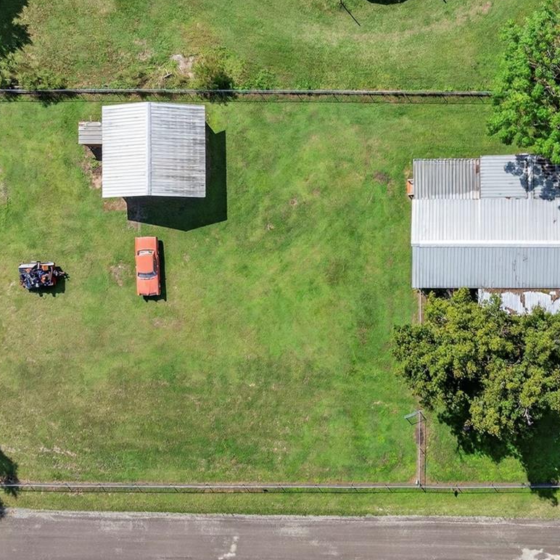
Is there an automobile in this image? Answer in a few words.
Yes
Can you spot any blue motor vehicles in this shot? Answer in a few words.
No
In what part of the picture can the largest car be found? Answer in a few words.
left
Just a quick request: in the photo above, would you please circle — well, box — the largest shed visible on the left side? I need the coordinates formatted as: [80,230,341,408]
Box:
[102,101,209,197]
